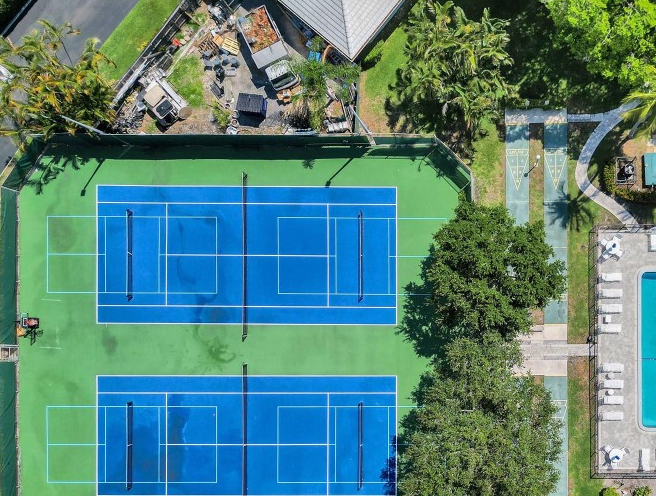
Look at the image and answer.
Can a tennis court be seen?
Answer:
Yes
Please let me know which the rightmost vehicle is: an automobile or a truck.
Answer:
truck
